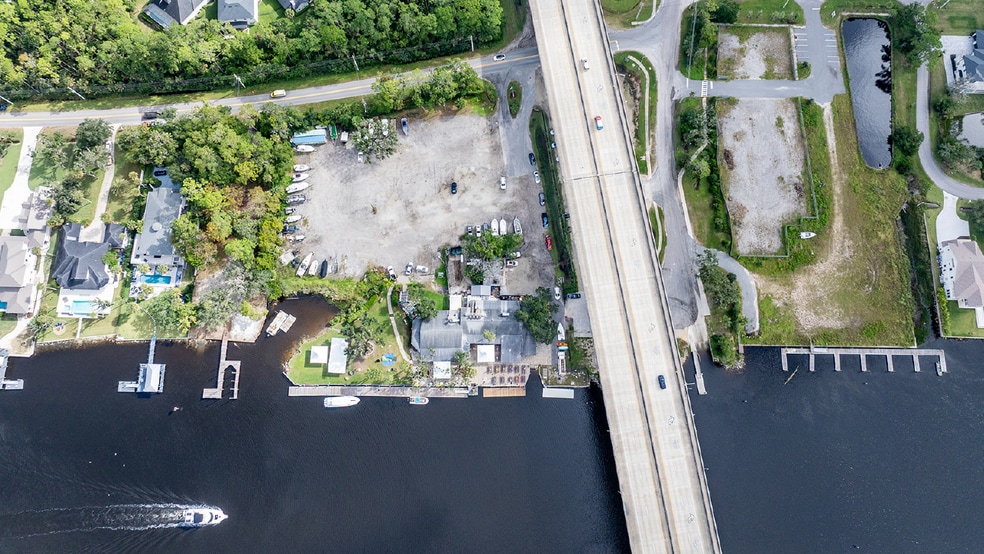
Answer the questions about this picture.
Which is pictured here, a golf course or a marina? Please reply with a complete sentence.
The picture captures a marina.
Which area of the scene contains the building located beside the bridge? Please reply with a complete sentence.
Look in the center portion of the view to spot the building located beside the bridge.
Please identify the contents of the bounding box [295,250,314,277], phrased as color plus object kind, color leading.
white boat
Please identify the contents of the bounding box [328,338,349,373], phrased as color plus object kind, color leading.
white tent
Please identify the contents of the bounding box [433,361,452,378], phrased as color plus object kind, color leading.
white tent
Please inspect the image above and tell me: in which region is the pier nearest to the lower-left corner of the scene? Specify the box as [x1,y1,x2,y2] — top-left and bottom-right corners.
[0,349,28,390]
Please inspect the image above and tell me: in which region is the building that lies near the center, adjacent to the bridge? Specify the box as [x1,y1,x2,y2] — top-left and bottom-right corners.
[411,295,536,363]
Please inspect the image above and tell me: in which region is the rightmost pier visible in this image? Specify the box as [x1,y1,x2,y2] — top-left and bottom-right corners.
[780,339,947,373]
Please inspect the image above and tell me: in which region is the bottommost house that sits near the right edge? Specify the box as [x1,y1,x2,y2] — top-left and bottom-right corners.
[934,237,984,307]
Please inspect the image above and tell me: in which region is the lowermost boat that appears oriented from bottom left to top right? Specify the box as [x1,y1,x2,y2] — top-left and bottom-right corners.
[268,311,286,334]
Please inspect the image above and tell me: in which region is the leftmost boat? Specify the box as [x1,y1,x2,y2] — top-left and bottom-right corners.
[183,509,229,523]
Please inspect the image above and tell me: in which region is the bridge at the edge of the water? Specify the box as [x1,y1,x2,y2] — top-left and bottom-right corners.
[529,0,724,554]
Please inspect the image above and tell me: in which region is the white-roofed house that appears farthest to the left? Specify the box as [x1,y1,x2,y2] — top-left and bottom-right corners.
[0,193,53,313]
